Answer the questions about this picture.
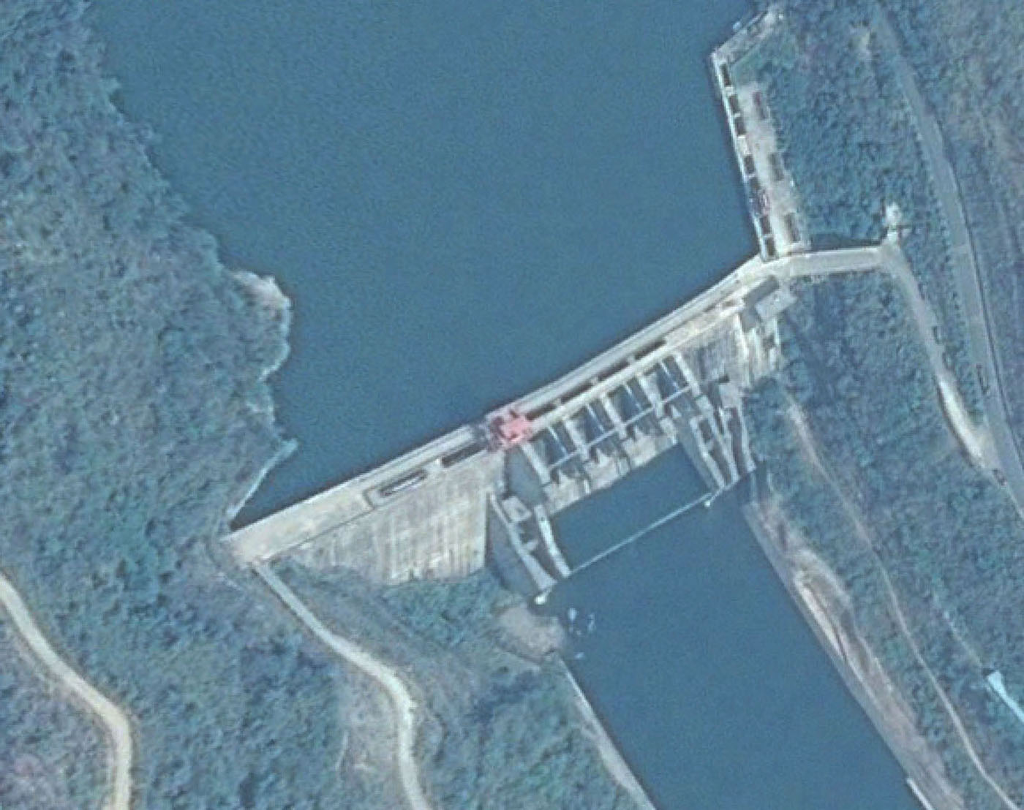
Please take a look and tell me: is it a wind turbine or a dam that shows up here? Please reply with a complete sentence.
I can see a dam in this picture.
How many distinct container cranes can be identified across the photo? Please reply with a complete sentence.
The picture shows 1 container crane.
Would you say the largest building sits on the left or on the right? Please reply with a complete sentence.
The largest building is on the right side of the image.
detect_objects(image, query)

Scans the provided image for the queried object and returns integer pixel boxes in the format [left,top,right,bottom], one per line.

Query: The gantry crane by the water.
[486,404,538,455]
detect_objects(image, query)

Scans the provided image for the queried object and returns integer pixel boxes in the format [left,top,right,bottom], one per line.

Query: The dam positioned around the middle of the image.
[233,256,783,605]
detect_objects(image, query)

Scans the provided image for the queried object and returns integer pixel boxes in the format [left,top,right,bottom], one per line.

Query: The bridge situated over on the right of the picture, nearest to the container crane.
[532,312,746,442]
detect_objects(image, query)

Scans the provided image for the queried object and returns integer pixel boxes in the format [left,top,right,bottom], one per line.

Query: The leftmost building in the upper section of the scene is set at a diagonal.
[744,282,800,331]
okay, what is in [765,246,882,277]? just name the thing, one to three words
bridge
